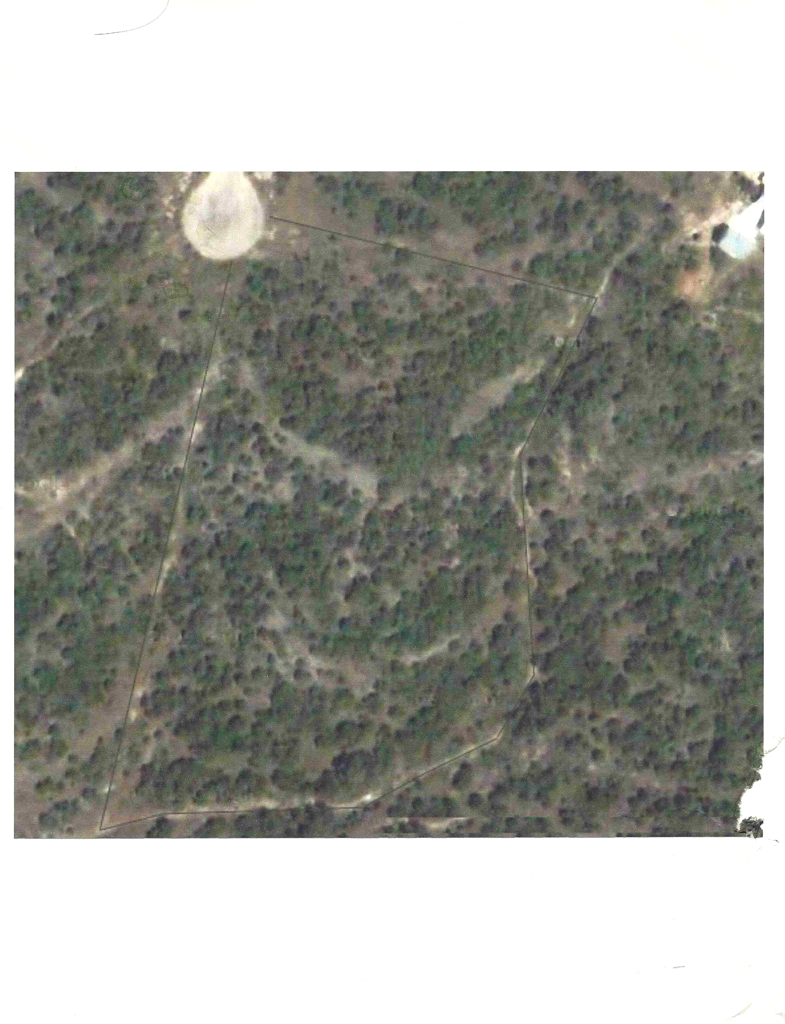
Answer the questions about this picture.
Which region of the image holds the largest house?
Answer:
top right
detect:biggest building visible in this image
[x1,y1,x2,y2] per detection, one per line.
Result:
[721,196,765,259]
